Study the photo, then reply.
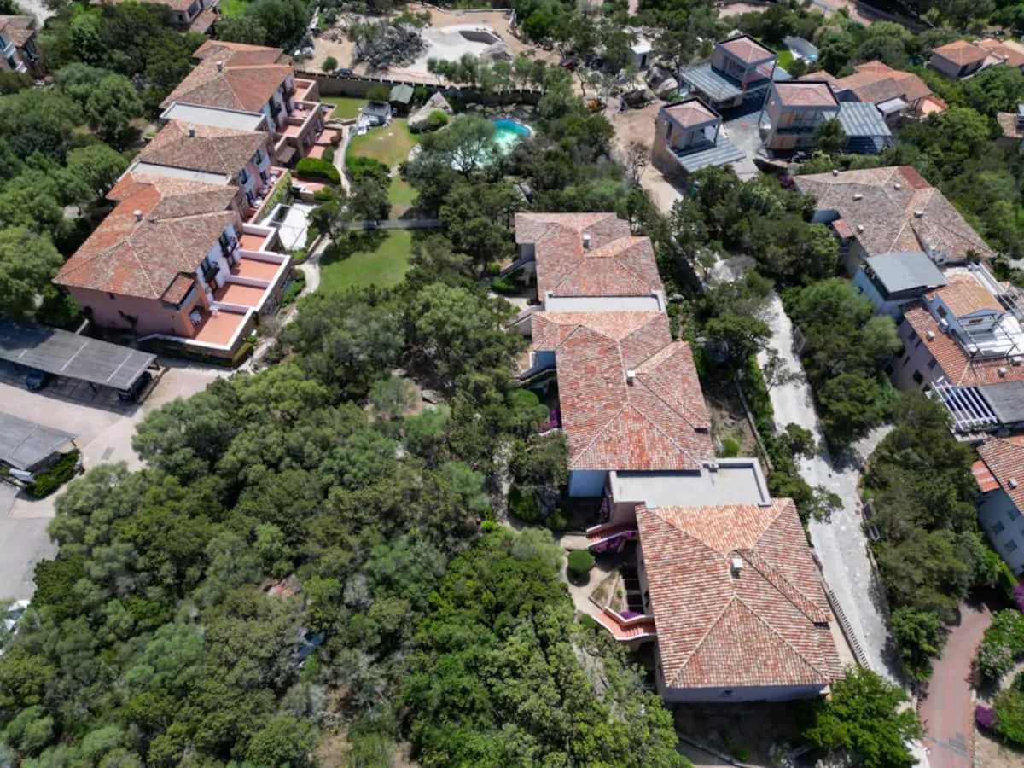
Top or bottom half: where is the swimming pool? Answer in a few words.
top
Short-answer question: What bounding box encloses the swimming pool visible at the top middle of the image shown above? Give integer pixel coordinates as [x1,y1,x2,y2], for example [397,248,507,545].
[454,120,528,166]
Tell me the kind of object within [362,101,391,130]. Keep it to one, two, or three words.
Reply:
gazebo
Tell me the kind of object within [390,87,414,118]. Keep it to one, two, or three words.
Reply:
shed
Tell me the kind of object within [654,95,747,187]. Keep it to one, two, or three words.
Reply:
house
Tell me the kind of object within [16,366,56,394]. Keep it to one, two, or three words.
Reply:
car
